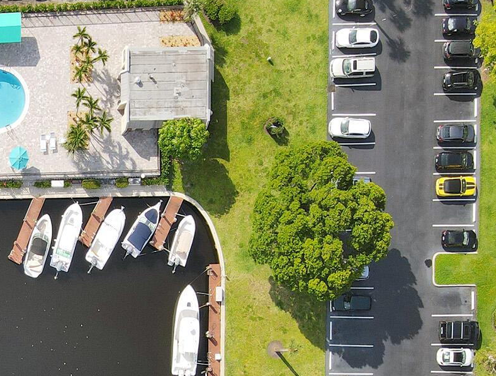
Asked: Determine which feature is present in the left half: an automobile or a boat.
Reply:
boat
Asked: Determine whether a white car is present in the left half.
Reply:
No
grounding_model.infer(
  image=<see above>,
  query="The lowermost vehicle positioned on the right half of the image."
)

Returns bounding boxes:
[435,348,474,368]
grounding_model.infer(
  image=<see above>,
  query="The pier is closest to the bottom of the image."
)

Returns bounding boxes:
[208,264,221,376]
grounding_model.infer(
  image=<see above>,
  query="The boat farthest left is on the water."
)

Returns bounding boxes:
[21,214,54,283]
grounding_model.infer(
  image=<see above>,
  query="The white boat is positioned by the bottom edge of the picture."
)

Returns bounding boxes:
[170,285,202,376]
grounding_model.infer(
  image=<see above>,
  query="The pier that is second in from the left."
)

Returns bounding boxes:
[81,196,113,247]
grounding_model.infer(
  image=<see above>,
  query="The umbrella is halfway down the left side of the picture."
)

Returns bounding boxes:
[8,148,28,168]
